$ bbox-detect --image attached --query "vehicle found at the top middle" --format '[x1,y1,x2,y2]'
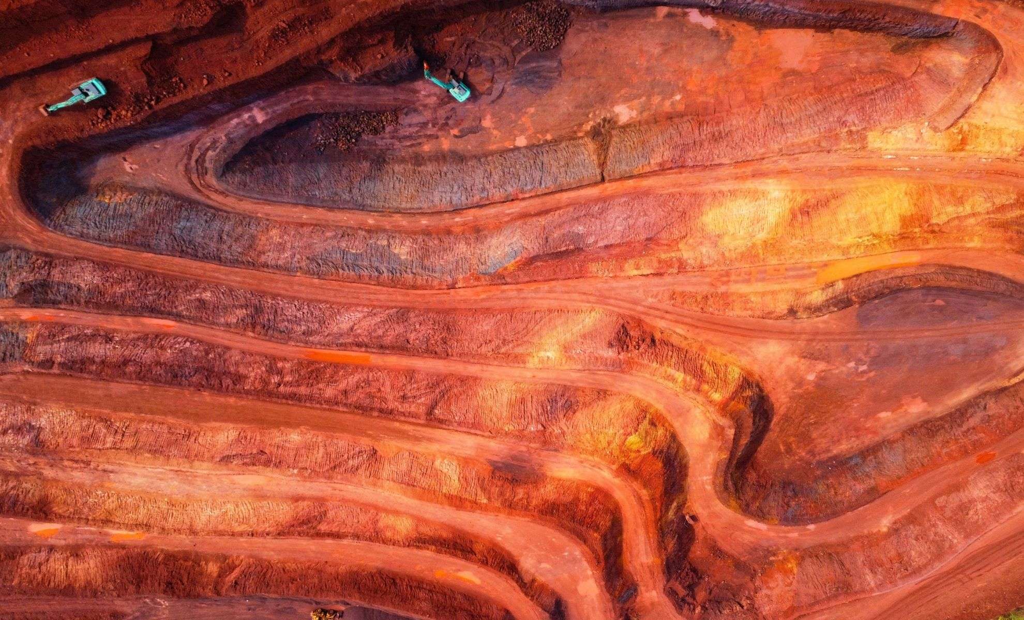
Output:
[424,58,470,100]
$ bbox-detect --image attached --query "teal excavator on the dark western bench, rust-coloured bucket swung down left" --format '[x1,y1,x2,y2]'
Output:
[45,74,102,115]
